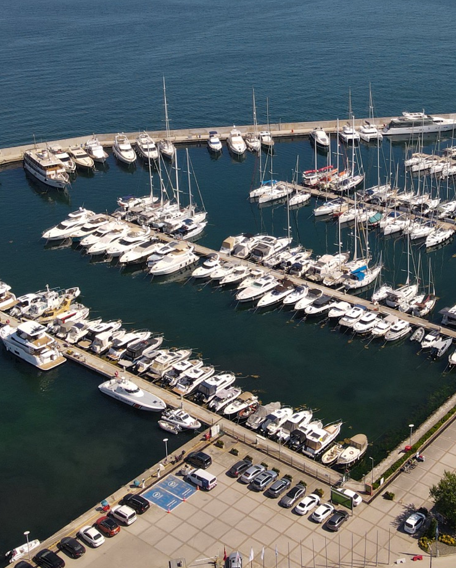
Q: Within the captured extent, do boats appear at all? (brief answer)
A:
Yes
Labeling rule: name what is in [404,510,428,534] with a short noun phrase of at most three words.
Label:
car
